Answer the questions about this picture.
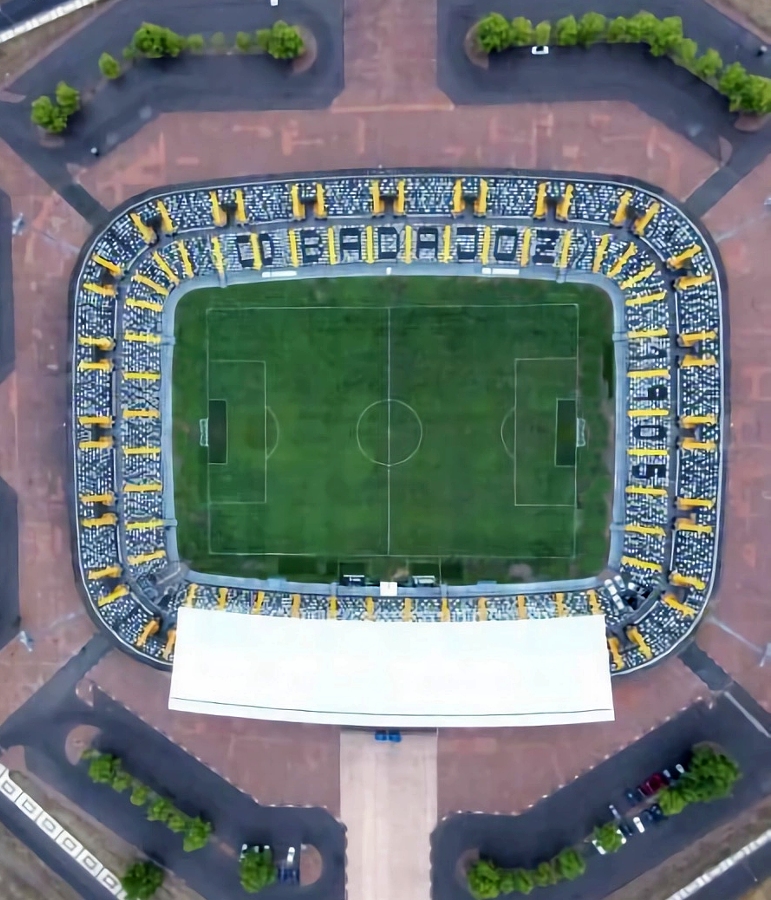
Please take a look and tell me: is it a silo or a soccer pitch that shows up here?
soccer pitch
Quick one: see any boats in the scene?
No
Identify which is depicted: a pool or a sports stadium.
sports stadium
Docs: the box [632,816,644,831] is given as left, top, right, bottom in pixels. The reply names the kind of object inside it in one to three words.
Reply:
vehicle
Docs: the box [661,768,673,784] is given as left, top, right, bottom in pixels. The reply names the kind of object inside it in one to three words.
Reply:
vehicle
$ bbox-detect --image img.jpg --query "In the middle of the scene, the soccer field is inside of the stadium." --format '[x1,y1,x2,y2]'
[173,275,616,585]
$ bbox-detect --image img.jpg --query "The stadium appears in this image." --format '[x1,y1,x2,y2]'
[65,164,731,727]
